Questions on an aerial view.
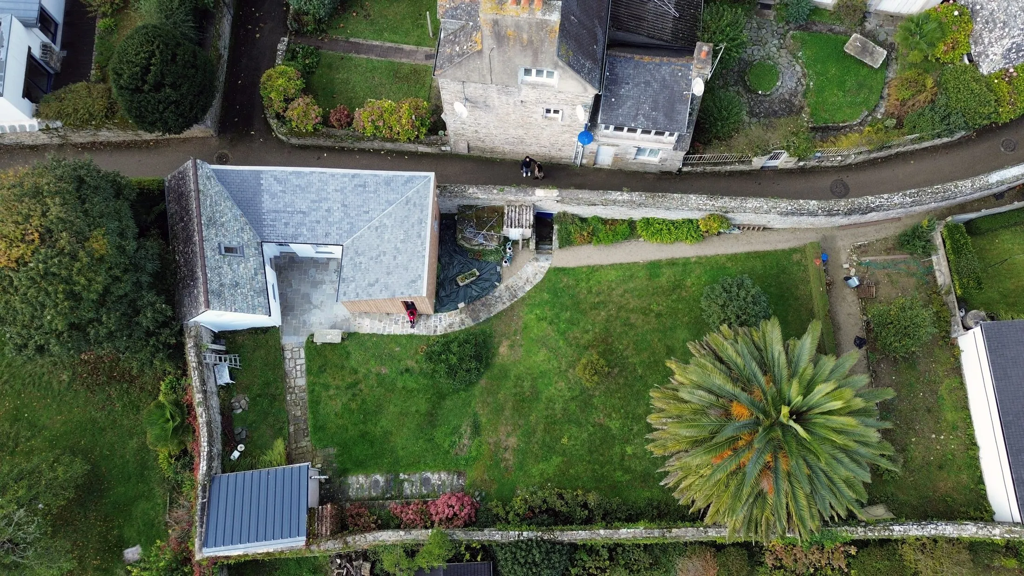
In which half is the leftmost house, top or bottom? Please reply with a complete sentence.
You can find the leftmost house in the top half.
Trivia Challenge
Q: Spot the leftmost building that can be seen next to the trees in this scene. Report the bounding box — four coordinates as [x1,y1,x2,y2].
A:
[0,0,87,136]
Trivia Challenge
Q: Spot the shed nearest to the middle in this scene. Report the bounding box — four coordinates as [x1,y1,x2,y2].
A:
[504,204,534,250]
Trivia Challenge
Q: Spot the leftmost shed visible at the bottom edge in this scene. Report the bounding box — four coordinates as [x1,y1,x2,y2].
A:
[202,462,320,557]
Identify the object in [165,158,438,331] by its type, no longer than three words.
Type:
house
